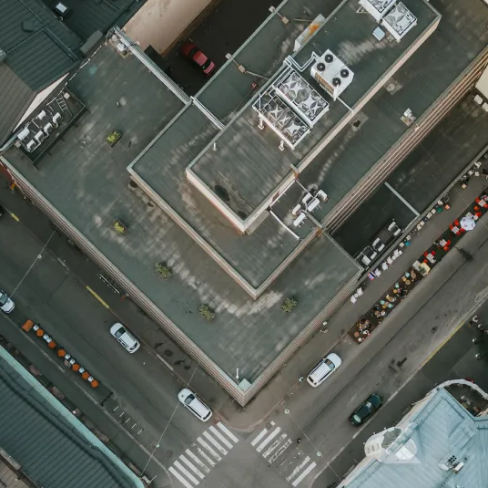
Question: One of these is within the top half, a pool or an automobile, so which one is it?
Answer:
automobile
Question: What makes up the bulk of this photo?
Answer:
buildings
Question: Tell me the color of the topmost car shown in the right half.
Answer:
white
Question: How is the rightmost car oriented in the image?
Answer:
on a diagonal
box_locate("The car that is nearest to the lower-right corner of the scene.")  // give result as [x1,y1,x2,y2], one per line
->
[345,389,386,430]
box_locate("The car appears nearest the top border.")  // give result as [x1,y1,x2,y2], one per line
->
[175,40,219,80]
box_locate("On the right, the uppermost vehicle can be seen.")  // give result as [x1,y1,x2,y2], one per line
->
[302,349,345,391]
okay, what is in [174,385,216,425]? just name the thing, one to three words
car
